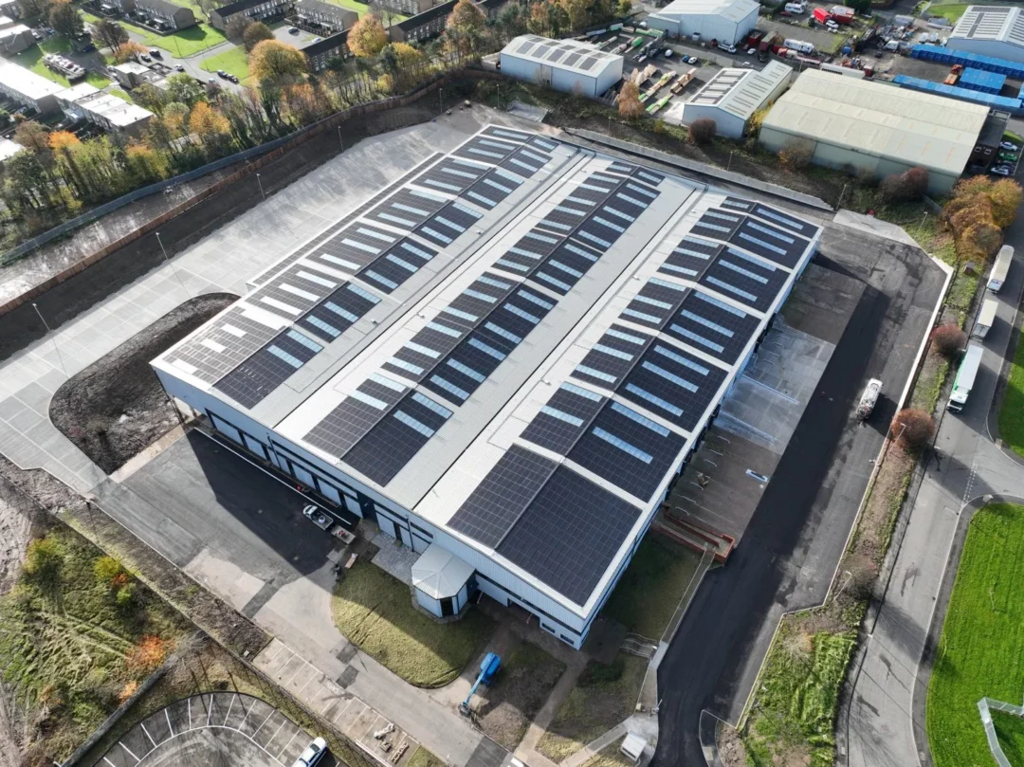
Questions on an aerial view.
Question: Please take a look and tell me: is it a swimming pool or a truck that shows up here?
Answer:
truck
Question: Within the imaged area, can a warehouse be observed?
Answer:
Yes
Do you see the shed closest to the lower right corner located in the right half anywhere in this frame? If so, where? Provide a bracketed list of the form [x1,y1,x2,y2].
[616,719,651,757]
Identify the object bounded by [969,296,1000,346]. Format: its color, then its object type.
white vehicle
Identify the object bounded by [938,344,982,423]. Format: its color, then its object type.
white truck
